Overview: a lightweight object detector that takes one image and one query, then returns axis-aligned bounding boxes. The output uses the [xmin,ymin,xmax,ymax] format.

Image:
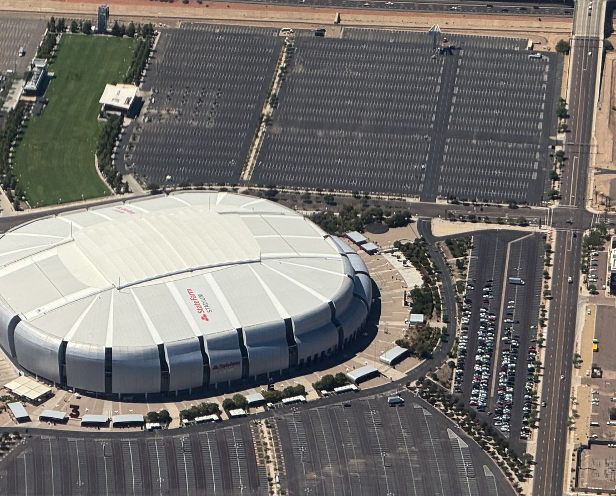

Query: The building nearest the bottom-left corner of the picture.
[4,375,51,401]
